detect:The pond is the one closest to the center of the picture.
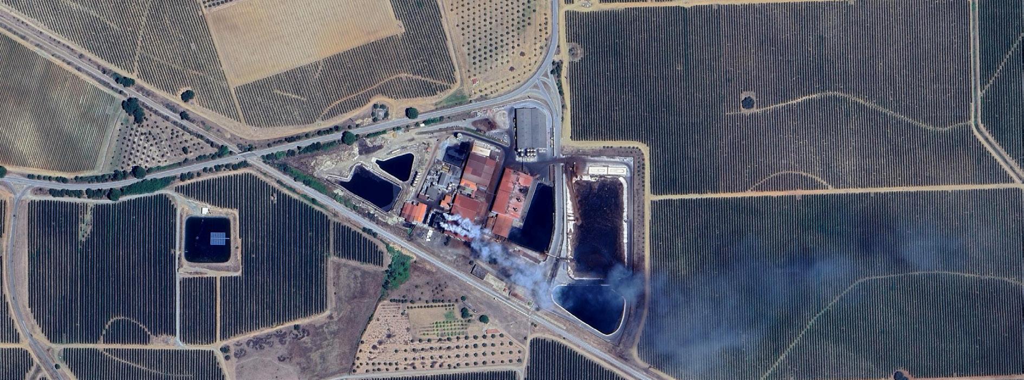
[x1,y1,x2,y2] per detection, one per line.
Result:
[507,181,555,254]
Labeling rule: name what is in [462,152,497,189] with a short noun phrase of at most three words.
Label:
building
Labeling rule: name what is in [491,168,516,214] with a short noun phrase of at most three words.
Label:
building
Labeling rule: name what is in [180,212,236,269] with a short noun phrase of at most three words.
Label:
pond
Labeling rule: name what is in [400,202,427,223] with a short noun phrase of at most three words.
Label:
shed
